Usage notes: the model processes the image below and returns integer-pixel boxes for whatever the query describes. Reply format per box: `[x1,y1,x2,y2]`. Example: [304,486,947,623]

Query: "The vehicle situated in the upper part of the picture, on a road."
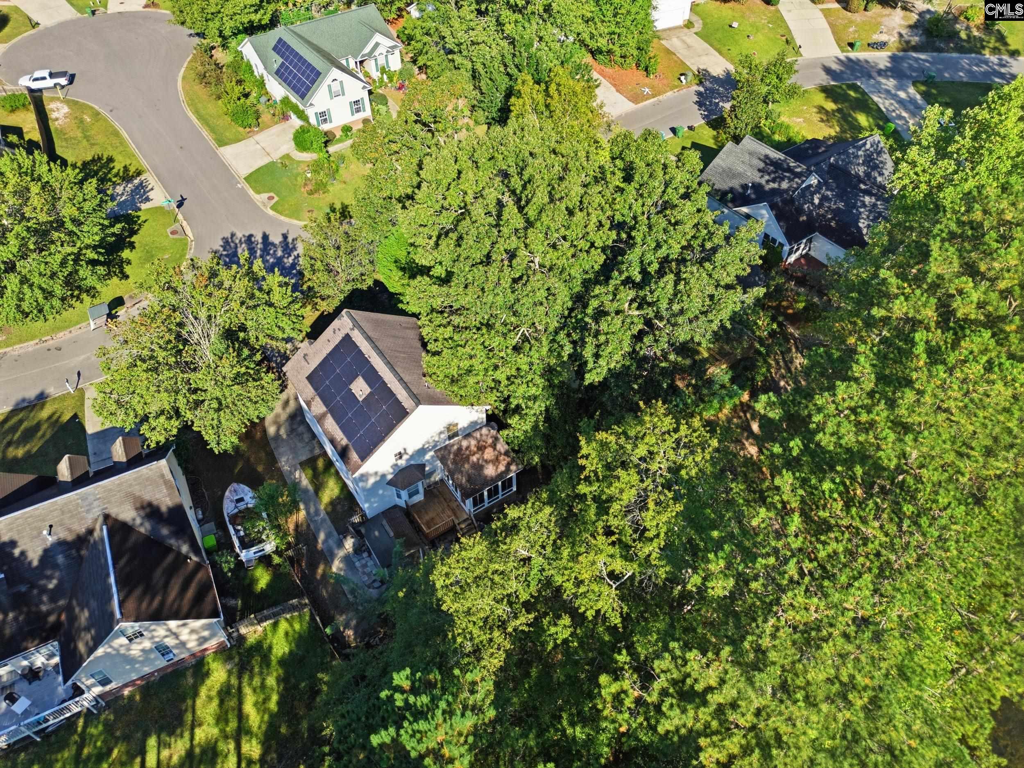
[20,69,78,91]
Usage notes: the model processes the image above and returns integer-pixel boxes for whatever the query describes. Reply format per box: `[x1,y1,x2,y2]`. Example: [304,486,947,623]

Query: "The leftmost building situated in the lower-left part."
[0,434,238,704]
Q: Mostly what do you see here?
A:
trees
